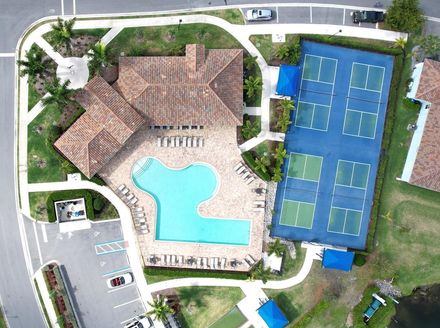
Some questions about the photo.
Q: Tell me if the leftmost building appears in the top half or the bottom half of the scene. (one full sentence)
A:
The leftmost building is in the top half of the image.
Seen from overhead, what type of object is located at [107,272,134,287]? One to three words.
car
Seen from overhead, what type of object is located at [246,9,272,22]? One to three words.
vehicle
